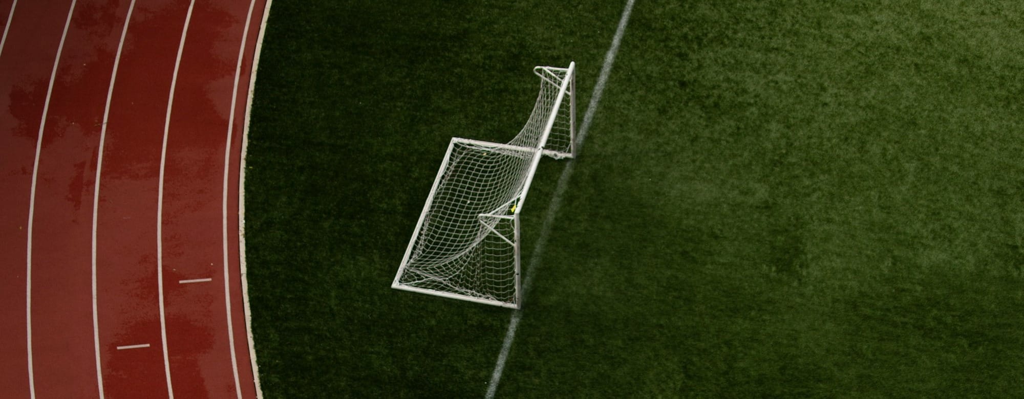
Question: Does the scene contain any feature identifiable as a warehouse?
No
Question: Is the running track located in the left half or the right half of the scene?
left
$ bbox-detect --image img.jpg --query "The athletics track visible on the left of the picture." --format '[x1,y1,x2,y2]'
[0,0,266,399]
